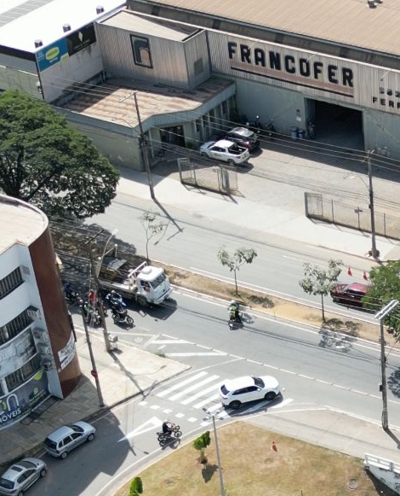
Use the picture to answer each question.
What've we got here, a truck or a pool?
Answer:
truck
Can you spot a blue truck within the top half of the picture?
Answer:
No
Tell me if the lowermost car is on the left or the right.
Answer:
left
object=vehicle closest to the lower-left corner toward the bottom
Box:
[0,458,49,496]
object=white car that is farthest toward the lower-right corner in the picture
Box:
[217,375,282,408]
